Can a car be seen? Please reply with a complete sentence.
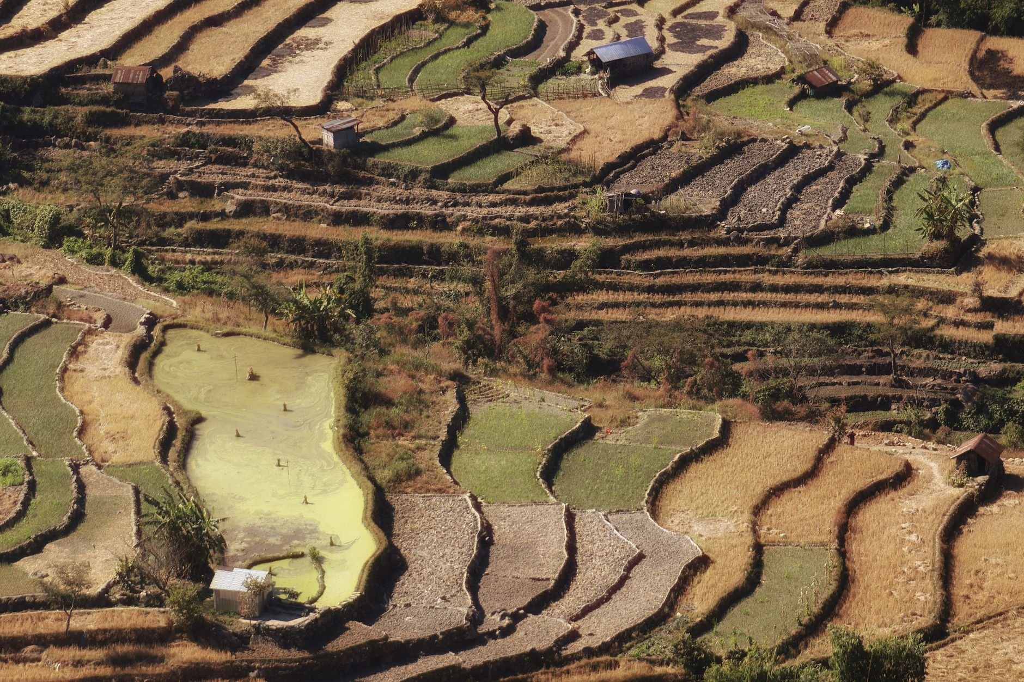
No, this view has no car in it.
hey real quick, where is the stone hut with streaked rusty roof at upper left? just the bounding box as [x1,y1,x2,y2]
[109,64,153,105]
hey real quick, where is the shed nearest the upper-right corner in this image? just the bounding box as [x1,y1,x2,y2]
[799,64,841,100]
